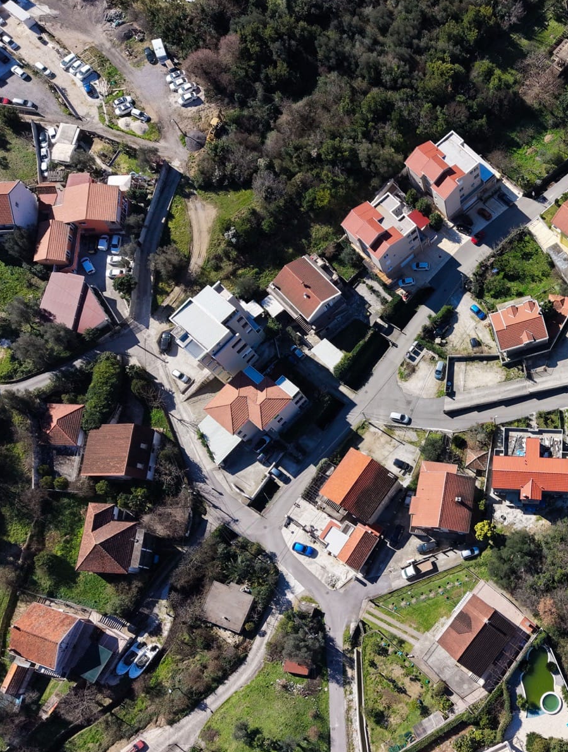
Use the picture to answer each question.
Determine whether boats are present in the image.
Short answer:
Yes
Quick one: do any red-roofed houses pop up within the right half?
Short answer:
Yes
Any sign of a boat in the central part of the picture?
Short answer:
No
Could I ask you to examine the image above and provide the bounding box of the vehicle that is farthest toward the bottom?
[126,737,149,752]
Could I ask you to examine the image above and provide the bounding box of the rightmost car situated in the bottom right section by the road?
[459,547,479,560]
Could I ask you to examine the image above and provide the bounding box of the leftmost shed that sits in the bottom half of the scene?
[0,663,37,697]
